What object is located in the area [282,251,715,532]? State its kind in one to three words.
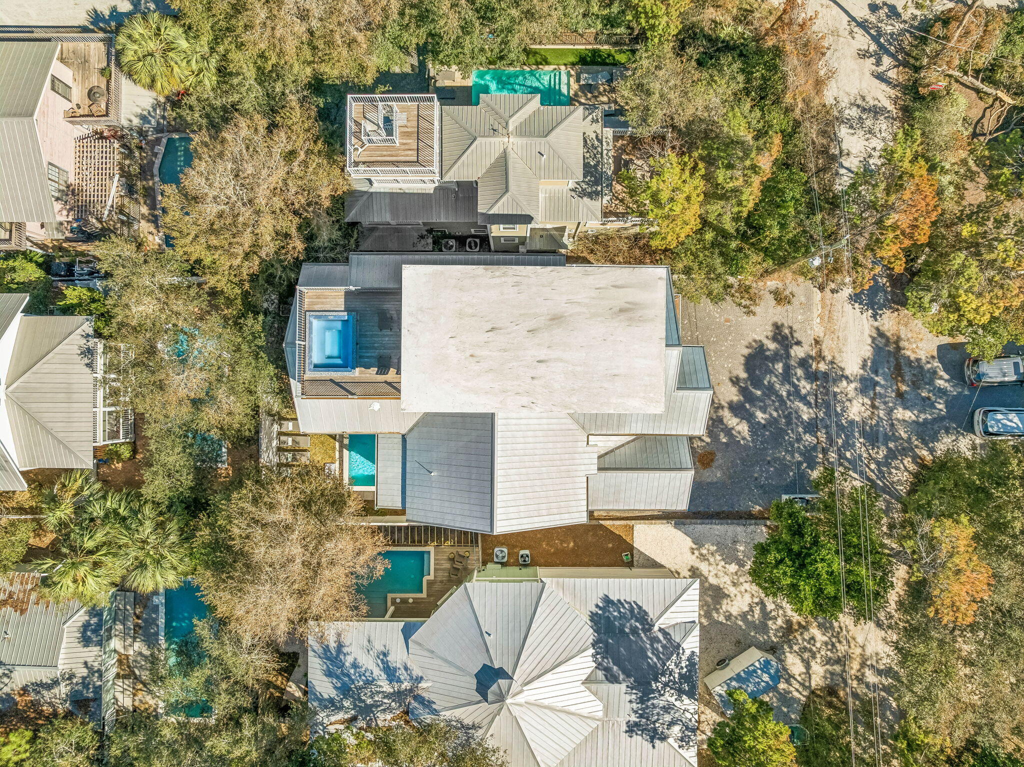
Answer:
house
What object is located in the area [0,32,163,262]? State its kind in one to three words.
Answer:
house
